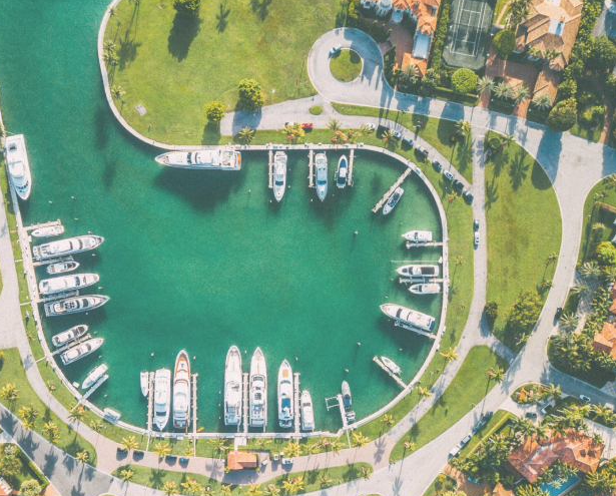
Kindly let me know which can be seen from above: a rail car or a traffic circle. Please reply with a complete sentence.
Looking from above, you can make out a traffic circle.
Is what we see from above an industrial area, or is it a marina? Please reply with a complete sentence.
The area seen from above is a marina.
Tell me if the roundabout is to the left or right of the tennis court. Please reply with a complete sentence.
Looking at the picture, you'll find the roundabout to the left of the tennis court.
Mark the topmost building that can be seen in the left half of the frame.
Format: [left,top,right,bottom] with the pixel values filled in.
[227,449,257,470]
